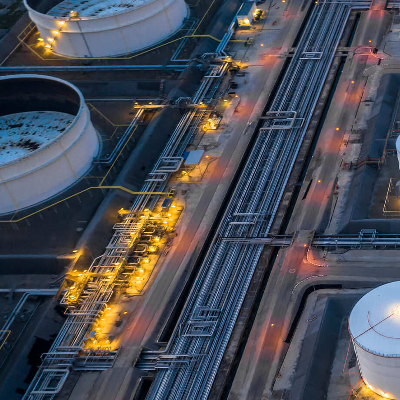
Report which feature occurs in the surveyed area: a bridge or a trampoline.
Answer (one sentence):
Visible in the photo is a bridge.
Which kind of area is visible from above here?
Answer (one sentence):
The picture captures an industrial area.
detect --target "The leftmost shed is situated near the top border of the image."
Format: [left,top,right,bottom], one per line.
[235,9,257,26]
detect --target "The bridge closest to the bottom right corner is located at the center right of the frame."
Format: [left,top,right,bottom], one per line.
[279,213,324,265]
